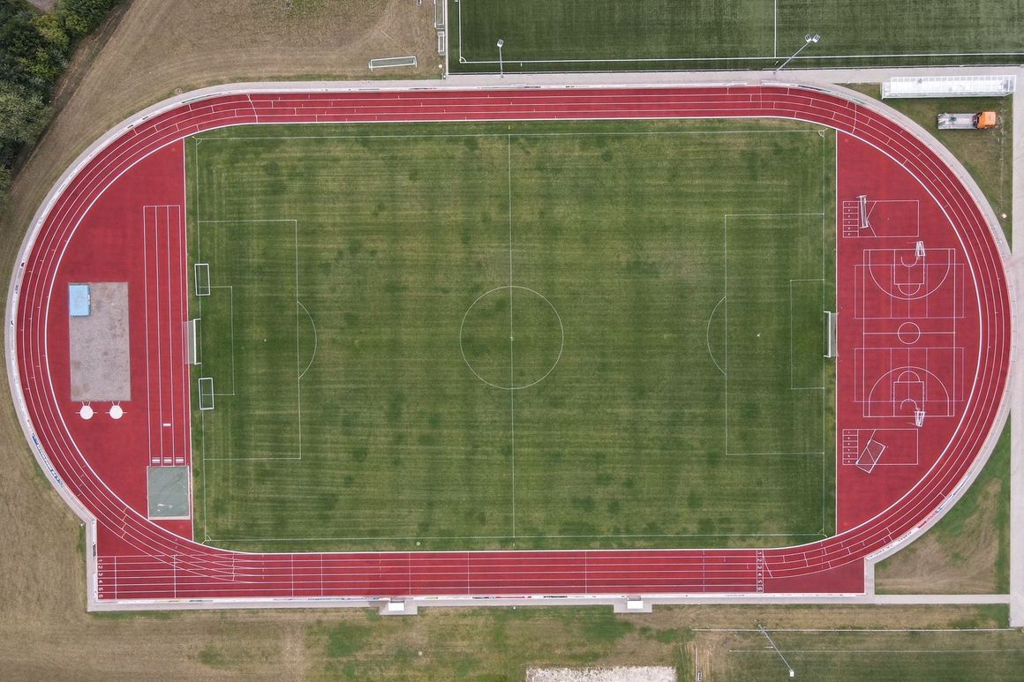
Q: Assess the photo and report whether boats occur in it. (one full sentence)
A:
No, I can't see a single boat in this photo.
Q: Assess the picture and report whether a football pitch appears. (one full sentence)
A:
Yes, you can see a football pitch in this photo.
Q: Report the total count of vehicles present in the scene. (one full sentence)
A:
I count just 1 vehicle.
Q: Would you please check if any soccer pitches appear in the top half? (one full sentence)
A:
Yes, there is a soccer pitch in the top half.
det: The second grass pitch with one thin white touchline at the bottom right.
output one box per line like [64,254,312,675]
[717,630,1024,682]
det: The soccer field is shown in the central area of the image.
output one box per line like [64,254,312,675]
[185,117,836,553]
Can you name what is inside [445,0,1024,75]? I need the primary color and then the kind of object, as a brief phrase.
green soccer field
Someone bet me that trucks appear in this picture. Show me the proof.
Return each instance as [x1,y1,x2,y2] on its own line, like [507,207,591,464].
[937,109,994,130]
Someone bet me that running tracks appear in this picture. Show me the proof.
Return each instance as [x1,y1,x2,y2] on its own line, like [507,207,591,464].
[16,84,1012,602]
